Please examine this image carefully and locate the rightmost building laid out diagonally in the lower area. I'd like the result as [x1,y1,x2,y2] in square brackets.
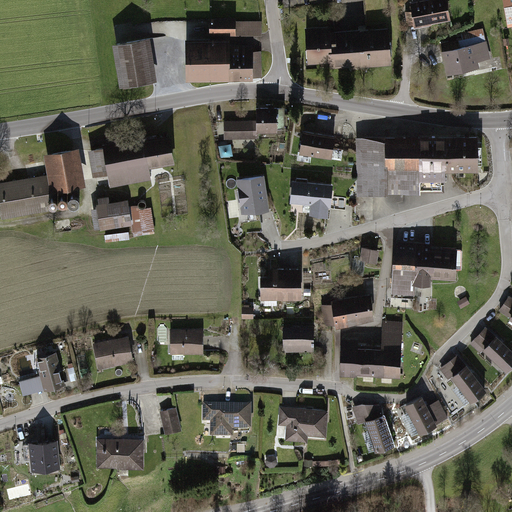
[470,327,512,375]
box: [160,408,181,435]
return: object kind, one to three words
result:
building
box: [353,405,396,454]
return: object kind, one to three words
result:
house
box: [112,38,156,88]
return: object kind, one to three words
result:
barn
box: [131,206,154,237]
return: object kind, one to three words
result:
shed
